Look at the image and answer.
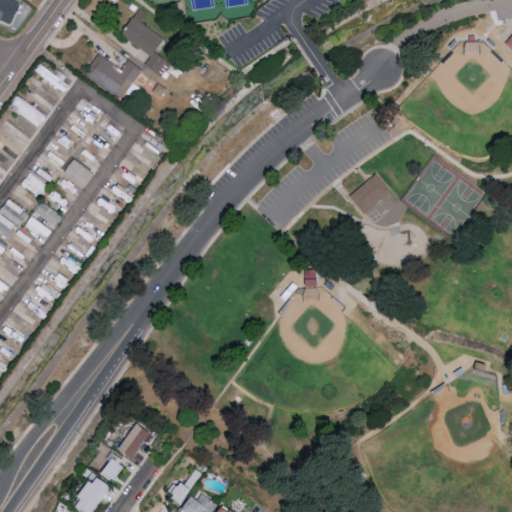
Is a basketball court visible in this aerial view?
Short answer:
Yes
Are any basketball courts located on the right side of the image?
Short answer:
Yes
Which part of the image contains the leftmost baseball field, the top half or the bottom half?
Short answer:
bottom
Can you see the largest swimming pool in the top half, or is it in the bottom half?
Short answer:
bottom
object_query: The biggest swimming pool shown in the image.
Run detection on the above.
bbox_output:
[202,474,230,496]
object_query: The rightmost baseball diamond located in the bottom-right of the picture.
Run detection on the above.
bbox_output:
[361,386,512,512]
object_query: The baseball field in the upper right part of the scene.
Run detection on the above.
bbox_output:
[400,40,512,159]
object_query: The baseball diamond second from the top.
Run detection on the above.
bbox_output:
[236,291,398,411]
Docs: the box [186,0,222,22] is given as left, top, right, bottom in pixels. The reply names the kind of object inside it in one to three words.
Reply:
tennis court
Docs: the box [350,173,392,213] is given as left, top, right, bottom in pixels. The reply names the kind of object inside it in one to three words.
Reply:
building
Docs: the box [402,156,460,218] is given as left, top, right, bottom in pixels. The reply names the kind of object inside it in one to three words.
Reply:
basketball court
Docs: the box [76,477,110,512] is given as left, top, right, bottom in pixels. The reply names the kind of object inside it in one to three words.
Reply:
house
